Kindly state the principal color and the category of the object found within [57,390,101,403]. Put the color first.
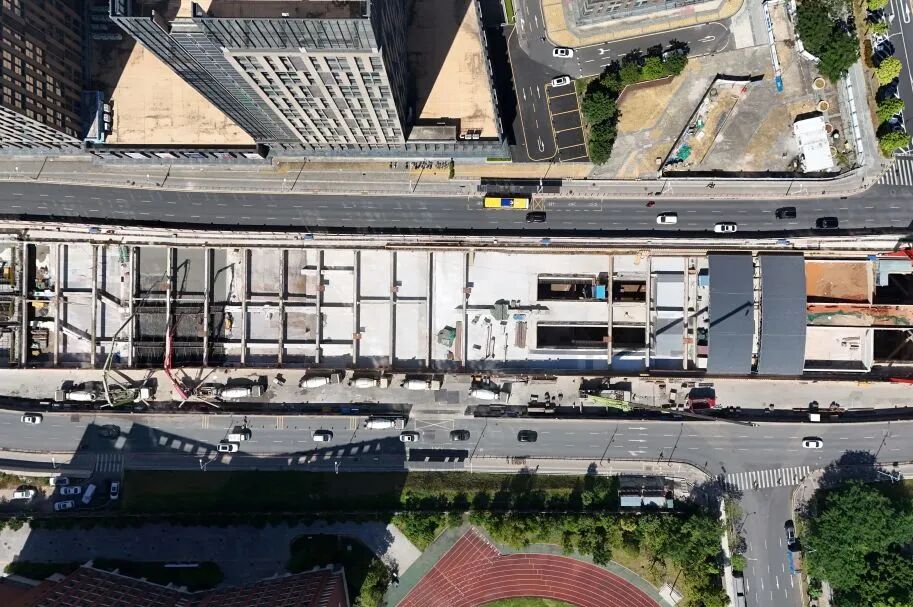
white vehicle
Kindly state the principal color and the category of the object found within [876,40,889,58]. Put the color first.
black vehicle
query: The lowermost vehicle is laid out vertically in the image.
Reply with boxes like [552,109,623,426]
[734,577,746,603]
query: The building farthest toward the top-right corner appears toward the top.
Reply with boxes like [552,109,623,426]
[788,116,835,174]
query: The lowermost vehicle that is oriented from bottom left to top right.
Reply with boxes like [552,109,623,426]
[79,483,98,505]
